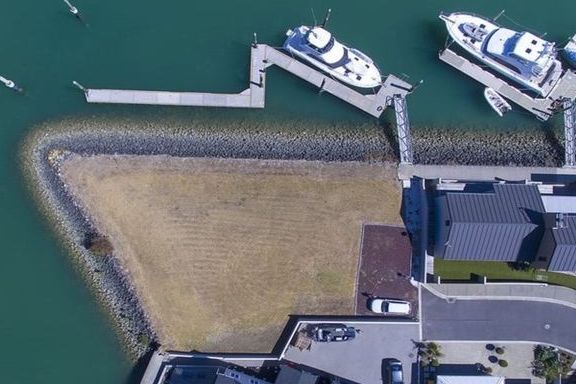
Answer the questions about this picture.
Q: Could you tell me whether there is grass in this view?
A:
Yes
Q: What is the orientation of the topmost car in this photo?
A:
from left to right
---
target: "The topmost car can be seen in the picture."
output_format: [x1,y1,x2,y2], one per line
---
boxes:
[370,296,412,316]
